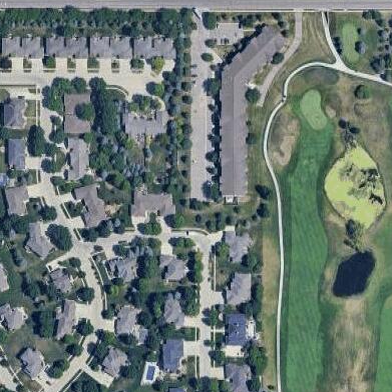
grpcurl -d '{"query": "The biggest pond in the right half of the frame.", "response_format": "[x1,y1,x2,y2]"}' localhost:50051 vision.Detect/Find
[325,146,385,229]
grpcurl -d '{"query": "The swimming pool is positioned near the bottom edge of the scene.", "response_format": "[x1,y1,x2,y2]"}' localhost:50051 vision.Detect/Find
[142,362,158,384]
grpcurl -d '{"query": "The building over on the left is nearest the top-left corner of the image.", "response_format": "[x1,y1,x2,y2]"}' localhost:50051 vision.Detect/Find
[2,34,43,58]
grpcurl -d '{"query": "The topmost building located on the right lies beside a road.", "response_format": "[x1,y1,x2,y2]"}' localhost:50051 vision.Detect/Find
[221,22,282,202]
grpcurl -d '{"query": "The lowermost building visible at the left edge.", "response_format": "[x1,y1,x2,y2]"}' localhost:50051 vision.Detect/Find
[18,345,44,383]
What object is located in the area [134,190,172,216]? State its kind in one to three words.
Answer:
house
